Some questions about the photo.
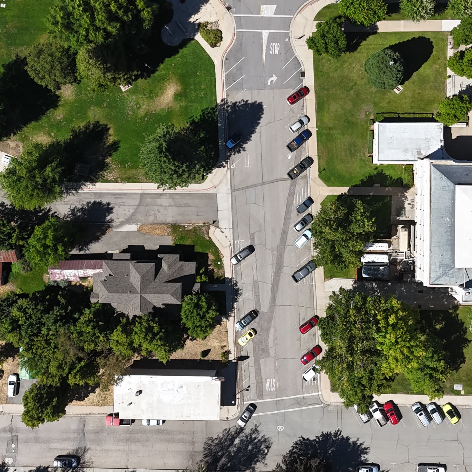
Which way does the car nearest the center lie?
on a diagonal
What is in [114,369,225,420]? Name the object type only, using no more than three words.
building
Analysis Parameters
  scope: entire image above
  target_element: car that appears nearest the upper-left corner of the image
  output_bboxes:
[225,133,243,149]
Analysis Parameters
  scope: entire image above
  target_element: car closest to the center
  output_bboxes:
[231,244,255,266]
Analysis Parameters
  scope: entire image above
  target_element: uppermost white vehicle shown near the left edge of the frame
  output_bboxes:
[6,374,18,397]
